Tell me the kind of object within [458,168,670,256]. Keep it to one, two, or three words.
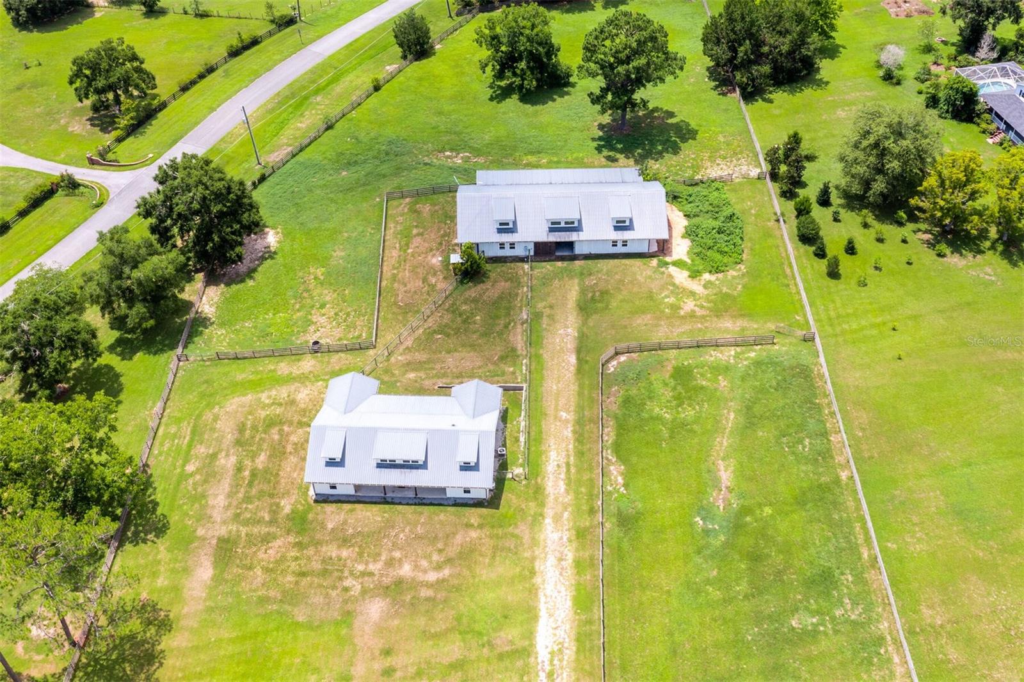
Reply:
barn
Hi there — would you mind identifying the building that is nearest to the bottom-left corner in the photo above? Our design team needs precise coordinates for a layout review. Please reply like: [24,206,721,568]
[304,369,502,506]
